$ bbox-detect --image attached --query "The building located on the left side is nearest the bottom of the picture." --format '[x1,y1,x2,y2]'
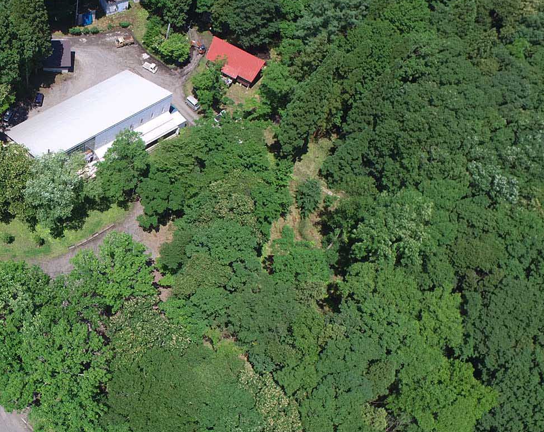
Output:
[5,69,186,181]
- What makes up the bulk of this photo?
trees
